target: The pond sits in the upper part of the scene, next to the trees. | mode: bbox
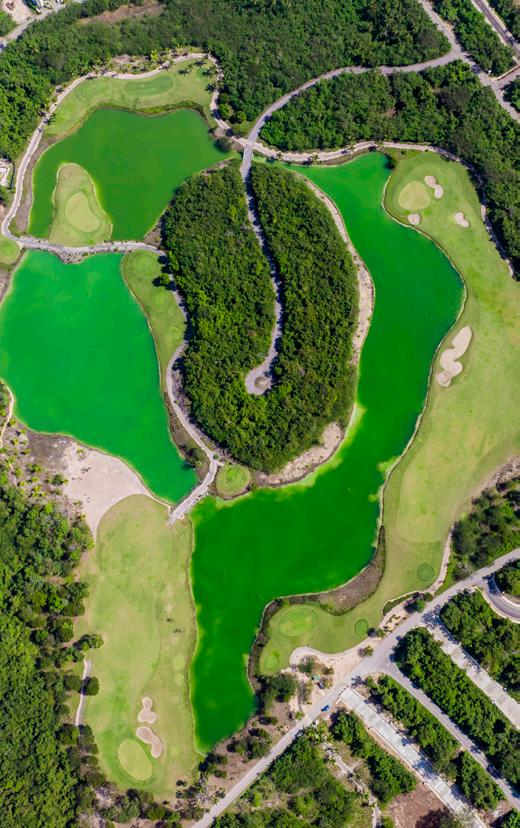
[27,107,243,242]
